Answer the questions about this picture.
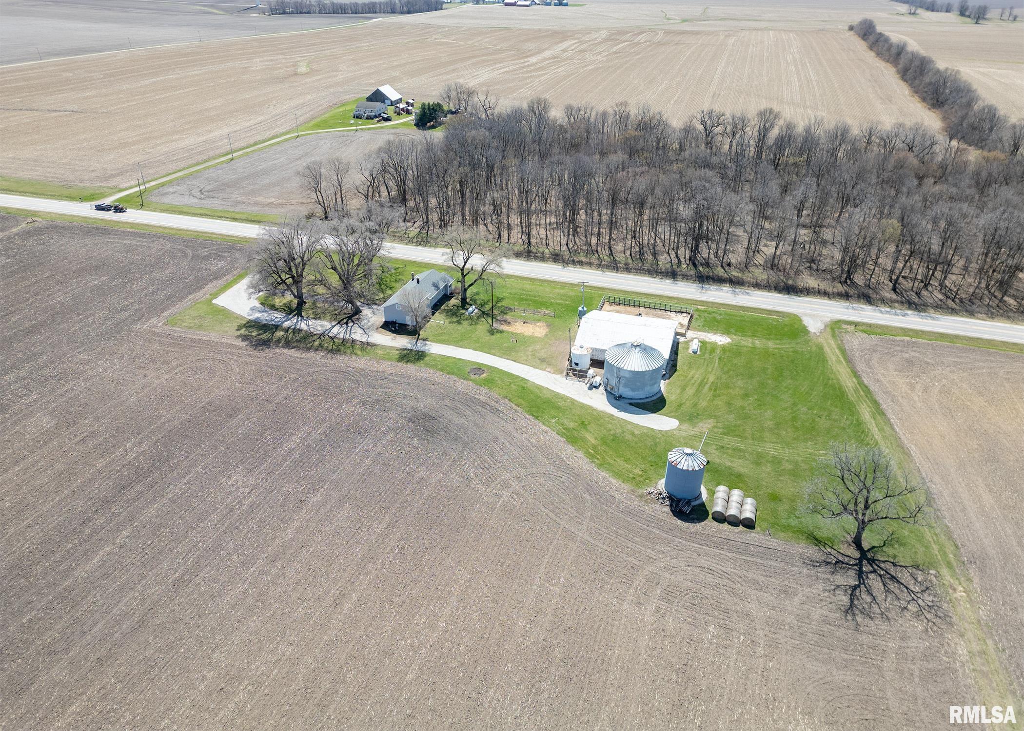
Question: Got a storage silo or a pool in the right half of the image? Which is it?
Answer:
storage silo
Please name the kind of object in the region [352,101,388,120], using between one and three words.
house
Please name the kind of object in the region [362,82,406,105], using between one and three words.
barn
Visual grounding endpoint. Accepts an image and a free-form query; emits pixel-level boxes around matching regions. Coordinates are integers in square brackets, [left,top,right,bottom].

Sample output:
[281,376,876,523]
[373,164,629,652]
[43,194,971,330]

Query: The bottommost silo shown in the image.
[661,447,710,500]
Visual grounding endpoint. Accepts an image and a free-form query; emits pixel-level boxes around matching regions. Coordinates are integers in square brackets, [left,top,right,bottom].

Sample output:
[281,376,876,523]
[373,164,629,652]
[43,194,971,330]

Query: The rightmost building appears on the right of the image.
[575,310,678,372]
